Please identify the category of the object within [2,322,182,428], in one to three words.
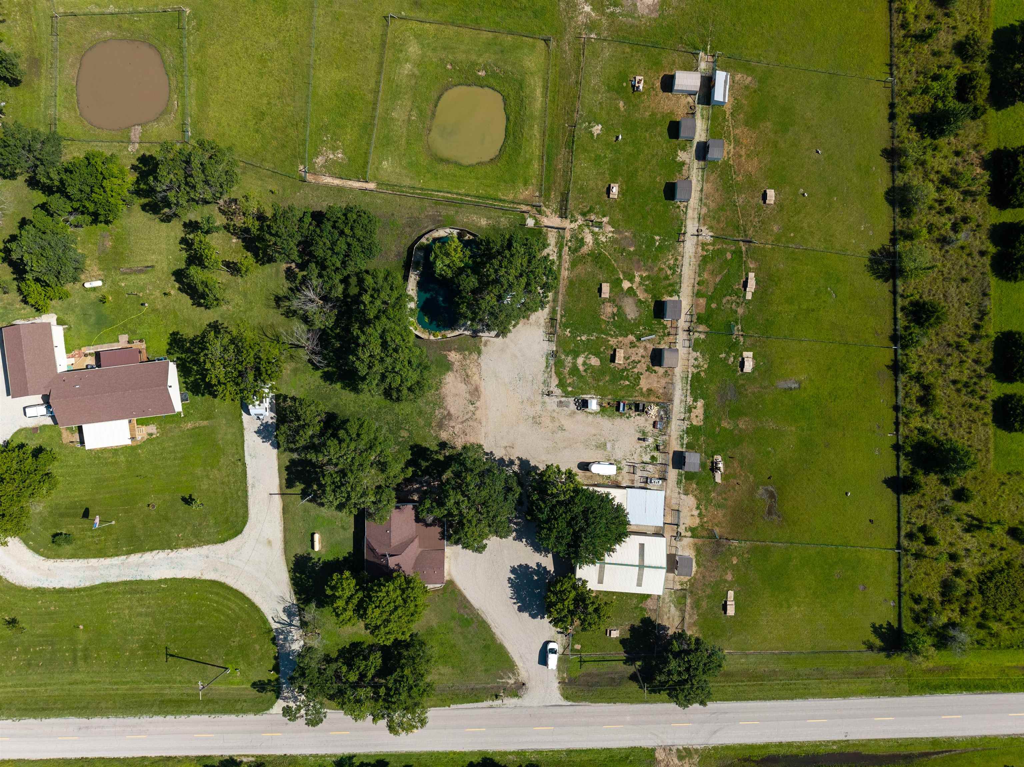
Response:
house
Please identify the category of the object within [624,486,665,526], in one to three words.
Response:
shed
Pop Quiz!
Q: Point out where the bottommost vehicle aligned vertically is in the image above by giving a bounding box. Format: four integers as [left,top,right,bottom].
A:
[546,641,558,669]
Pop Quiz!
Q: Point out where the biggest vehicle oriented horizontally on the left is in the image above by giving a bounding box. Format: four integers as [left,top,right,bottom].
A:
[24,403,54,417]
